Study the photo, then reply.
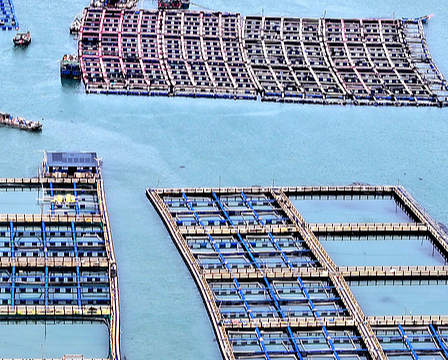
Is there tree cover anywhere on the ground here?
No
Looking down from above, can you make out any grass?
No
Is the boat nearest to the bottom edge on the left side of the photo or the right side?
left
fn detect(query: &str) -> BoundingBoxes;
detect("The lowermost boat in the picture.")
[0,108,46,129]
